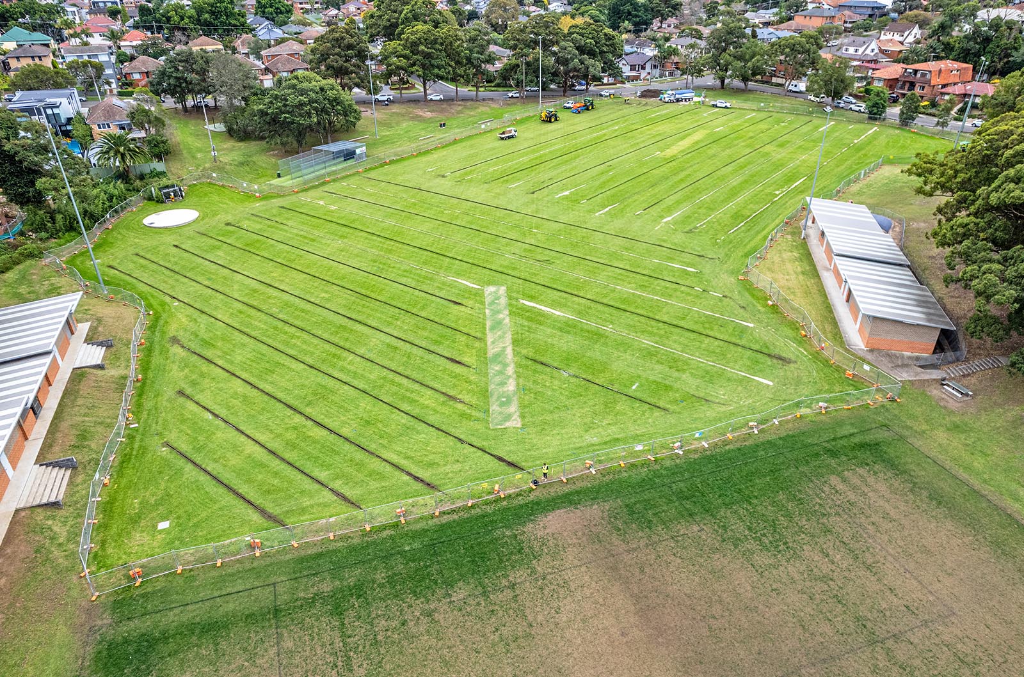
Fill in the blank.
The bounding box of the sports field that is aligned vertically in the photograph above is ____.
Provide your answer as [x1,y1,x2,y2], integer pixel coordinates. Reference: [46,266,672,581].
[483,285,522,429]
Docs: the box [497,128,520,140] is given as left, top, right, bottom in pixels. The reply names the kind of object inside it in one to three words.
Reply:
vehicle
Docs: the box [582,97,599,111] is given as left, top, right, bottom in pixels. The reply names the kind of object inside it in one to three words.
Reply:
work vehicle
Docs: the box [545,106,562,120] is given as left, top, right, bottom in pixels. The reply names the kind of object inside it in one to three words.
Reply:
work vehicle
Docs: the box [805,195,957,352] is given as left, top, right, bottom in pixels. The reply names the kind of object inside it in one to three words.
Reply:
building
